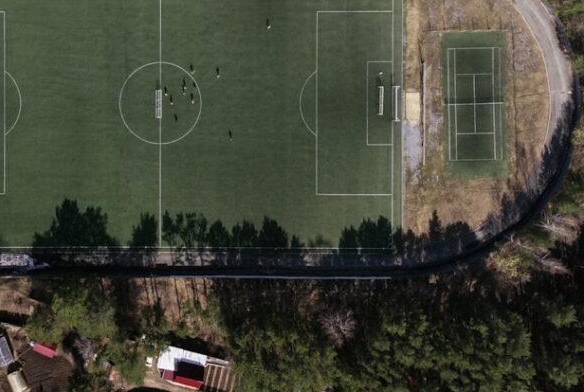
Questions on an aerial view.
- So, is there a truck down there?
No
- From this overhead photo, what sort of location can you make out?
sports ground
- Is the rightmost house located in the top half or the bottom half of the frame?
bottom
